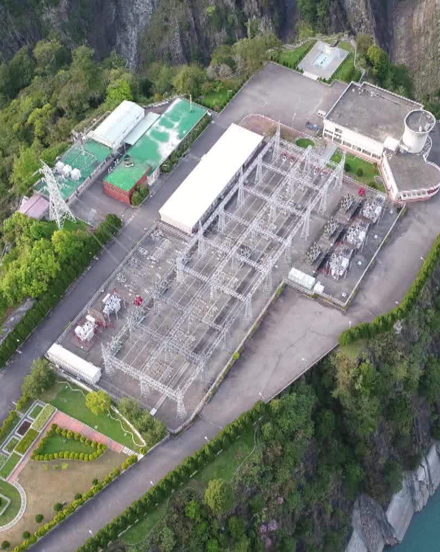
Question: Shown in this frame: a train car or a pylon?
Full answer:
There is a pylon in the scene.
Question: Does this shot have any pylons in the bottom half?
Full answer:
No, no pylon can be made out in the bottom half.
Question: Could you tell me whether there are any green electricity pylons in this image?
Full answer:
No, no green electricity pylon can be seen from above.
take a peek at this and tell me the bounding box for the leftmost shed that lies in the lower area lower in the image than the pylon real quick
[47,344,103,384]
